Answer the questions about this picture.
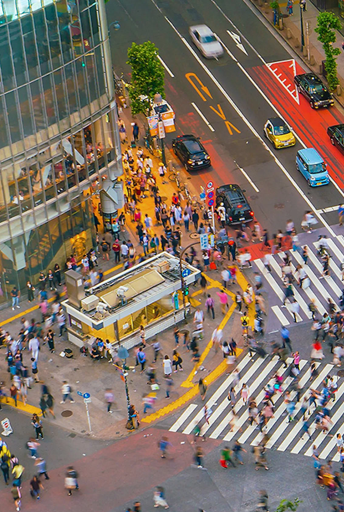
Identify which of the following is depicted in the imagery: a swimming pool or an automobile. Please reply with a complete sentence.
The one in the frame is an automobile.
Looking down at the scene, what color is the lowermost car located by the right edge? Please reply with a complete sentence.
The color of the lowermost car located by the right edge is blue.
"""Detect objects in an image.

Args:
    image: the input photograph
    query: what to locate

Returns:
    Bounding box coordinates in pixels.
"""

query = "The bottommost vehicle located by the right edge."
[295,141,331,182]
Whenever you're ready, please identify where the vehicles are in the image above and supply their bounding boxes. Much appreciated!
[294,72,335,109]
[214,178,259,224]
[265,113,297,146]
[187,25,225,57]
[327,123,344,155]
[295,141,331,182]
[173,135,213,169]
